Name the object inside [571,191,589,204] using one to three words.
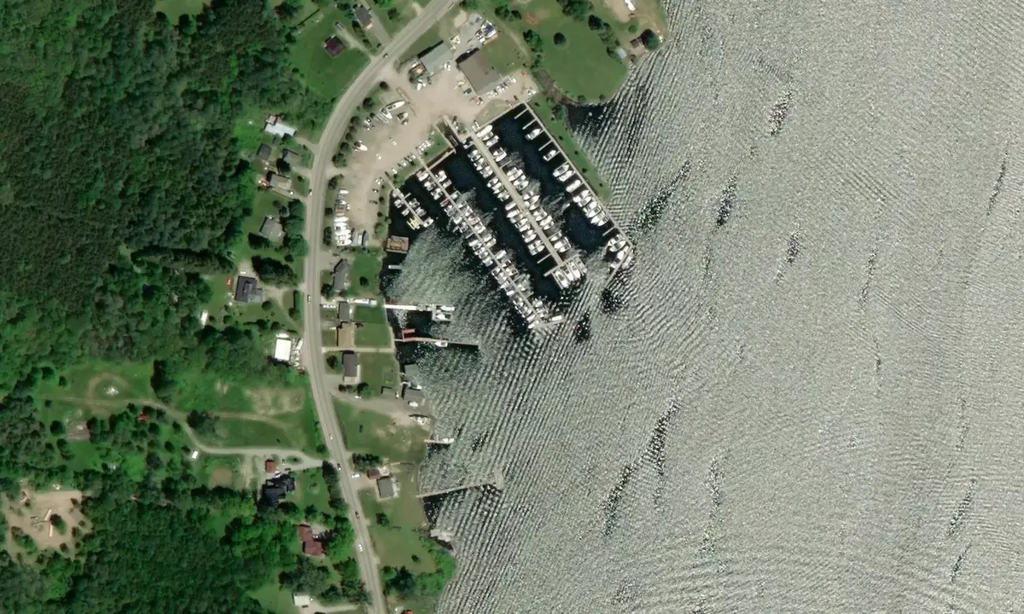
boat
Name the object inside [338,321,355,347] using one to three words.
house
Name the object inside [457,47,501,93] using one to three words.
shed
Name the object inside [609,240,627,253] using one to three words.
boat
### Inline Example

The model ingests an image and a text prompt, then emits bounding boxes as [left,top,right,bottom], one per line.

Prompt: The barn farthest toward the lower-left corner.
[67,421,90,437]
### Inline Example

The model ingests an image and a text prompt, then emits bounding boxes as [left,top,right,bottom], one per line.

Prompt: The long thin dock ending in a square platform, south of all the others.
[416,470,504,498]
